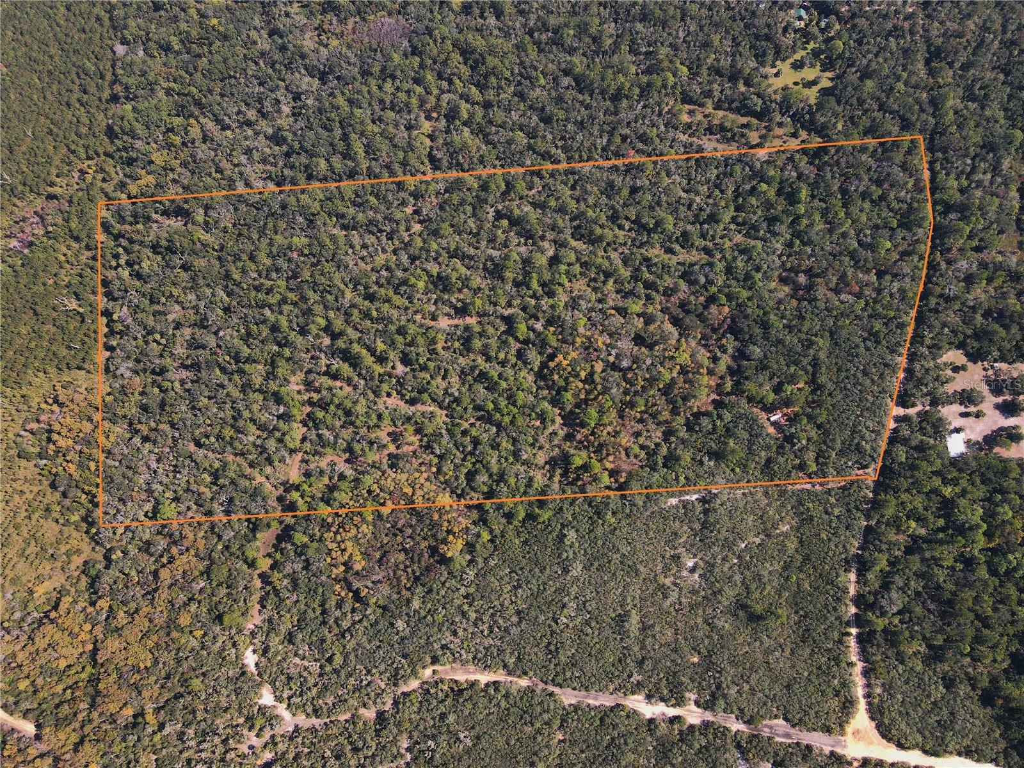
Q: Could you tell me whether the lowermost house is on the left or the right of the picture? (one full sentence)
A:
You can find the lowermost house on the right side of the picture.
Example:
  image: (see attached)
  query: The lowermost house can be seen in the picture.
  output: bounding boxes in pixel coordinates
[940,432,968,457]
